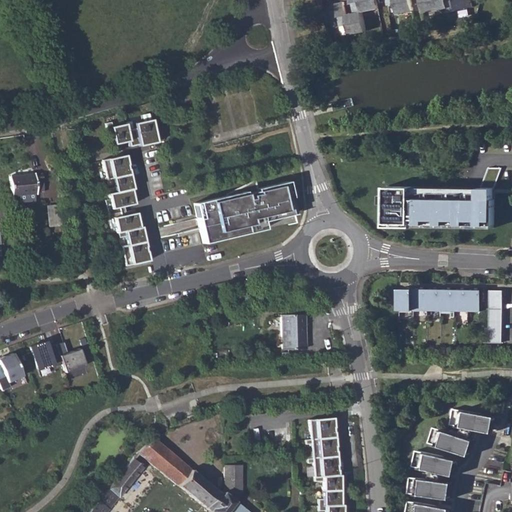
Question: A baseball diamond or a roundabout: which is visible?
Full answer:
I can see a roundabout in this picture.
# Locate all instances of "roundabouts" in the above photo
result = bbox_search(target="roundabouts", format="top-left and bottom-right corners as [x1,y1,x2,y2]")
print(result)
[294,213,368,288]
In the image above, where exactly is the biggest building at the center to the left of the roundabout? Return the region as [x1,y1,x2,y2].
[193,182,300,244]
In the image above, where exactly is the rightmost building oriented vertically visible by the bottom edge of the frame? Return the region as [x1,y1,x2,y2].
[304,418,346,512]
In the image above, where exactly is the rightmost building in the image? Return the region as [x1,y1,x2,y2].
[486,290,502,343]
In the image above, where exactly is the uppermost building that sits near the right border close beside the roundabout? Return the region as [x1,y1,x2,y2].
[373,188,494,230]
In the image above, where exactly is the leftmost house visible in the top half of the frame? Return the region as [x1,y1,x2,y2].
[12,168,40,203]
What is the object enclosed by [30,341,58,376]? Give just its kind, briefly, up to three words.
house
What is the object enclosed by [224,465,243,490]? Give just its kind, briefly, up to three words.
shed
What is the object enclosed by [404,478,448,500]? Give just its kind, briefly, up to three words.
house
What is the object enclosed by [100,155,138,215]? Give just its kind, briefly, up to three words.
building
